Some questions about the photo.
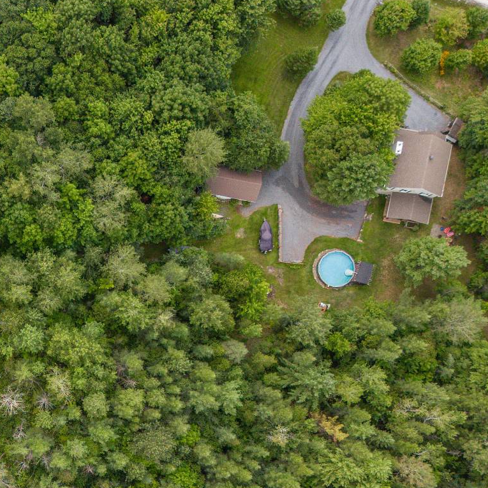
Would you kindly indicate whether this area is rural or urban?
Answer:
rural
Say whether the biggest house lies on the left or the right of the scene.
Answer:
right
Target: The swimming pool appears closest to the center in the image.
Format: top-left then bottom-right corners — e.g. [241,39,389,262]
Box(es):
[316,250,355,287]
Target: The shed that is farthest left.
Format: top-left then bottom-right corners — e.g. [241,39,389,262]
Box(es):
[206,165,263,203]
